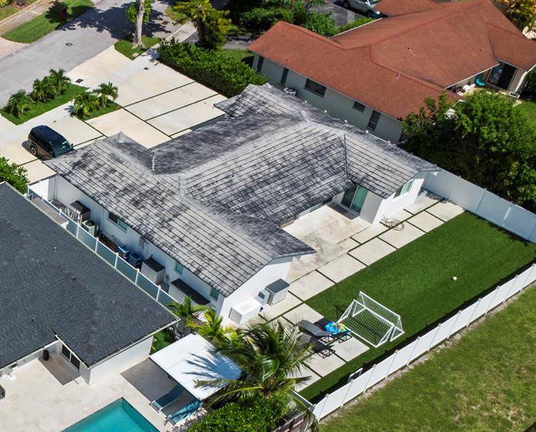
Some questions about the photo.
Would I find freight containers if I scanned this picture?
No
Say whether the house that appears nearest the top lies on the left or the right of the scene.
right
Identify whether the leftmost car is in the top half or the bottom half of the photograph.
top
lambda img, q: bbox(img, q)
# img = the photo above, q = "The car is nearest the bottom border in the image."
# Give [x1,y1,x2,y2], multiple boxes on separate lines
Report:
[27,122,80,161]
